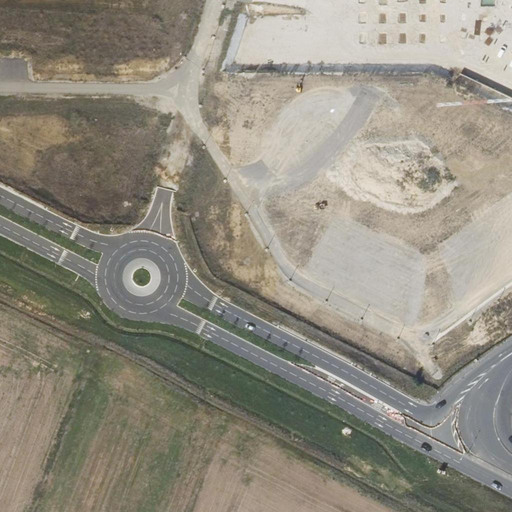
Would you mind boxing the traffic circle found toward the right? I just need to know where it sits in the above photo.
[470,340,512,484]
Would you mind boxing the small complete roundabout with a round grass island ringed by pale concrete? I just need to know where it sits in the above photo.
[96,232,188,322]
